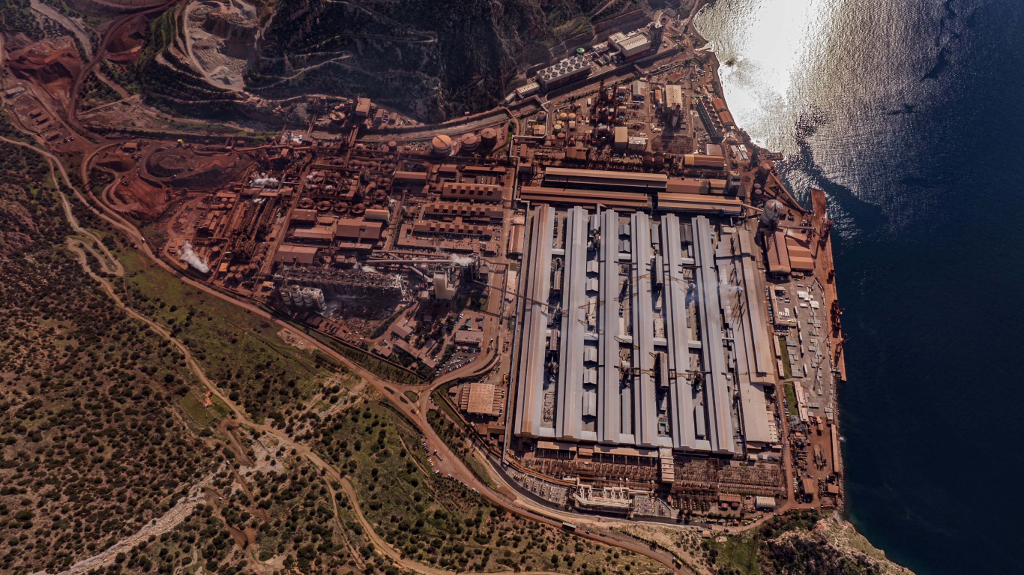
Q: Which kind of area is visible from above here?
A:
port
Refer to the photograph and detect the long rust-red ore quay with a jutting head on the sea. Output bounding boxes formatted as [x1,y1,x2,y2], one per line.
[810,190,847,382]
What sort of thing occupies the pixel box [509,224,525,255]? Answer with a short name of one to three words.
shed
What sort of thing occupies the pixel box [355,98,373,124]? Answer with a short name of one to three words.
house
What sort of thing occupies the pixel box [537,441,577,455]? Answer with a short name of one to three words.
building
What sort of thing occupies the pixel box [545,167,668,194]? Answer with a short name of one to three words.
building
